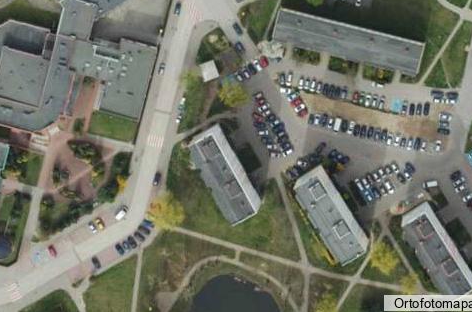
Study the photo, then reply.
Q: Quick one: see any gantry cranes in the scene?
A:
No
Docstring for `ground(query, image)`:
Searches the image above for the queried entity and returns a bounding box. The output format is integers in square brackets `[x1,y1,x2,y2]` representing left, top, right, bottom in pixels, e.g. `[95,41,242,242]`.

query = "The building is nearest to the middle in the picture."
[192,118,264,225]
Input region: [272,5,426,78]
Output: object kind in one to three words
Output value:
building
